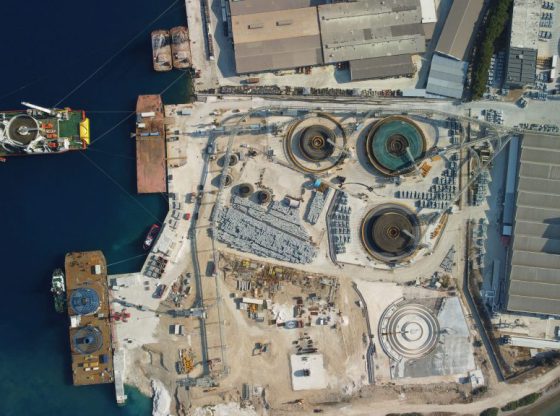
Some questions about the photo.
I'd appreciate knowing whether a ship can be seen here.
Yes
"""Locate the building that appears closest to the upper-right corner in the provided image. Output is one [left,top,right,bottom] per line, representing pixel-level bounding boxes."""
[505,0,540,51]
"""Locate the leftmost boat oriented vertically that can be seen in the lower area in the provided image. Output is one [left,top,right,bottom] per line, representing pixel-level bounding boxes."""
[51,269,66,313]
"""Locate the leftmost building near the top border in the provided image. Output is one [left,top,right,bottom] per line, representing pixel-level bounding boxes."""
[229,0,324,77]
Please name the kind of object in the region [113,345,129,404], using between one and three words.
pier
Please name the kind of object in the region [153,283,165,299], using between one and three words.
vehicle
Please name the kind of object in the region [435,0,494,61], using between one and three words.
building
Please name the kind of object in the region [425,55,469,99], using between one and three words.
building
